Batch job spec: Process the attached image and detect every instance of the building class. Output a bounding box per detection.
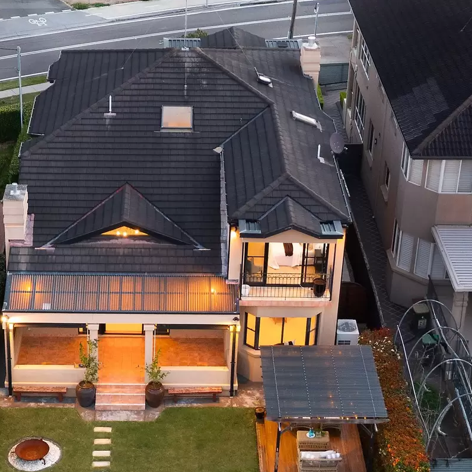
[1,23,353,409]
[333,0,472,334]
